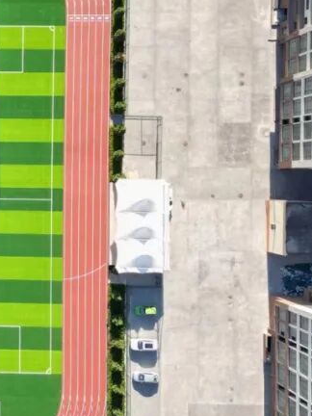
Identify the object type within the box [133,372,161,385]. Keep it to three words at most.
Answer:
vehicle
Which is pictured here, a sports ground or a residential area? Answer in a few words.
sports ground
